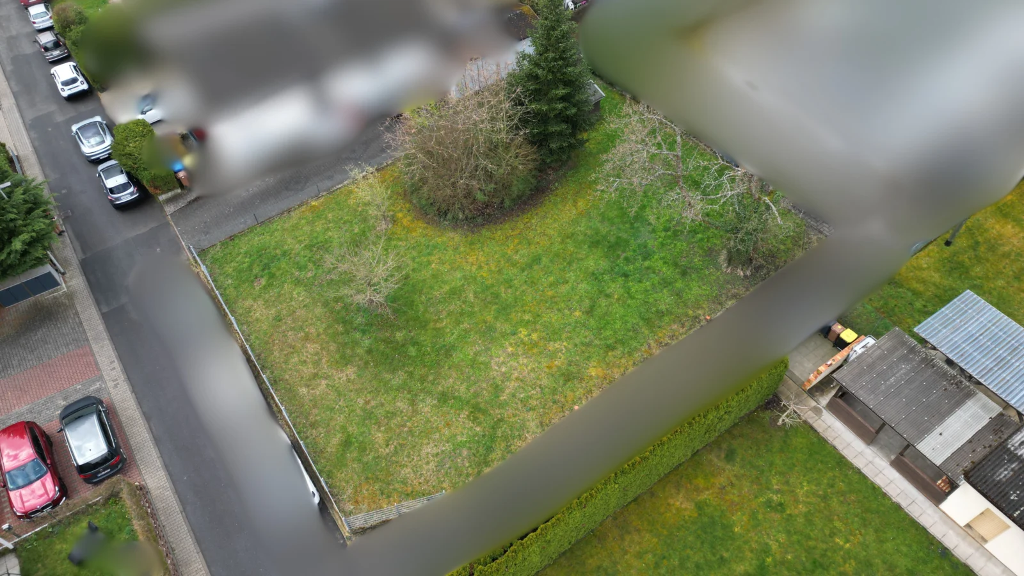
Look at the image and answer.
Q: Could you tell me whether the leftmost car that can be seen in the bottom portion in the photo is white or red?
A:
red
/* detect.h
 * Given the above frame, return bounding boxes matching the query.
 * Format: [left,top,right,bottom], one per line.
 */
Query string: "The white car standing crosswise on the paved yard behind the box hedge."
[140,84,198,127]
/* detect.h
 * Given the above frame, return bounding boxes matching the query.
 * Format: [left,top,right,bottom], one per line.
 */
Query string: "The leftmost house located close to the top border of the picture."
[136,0,419,159]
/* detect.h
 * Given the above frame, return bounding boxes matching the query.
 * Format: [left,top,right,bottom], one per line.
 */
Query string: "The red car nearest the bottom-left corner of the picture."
[4,415,67,519]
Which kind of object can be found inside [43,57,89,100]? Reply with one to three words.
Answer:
car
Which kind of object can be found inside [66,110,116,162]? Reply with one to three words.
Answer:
car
